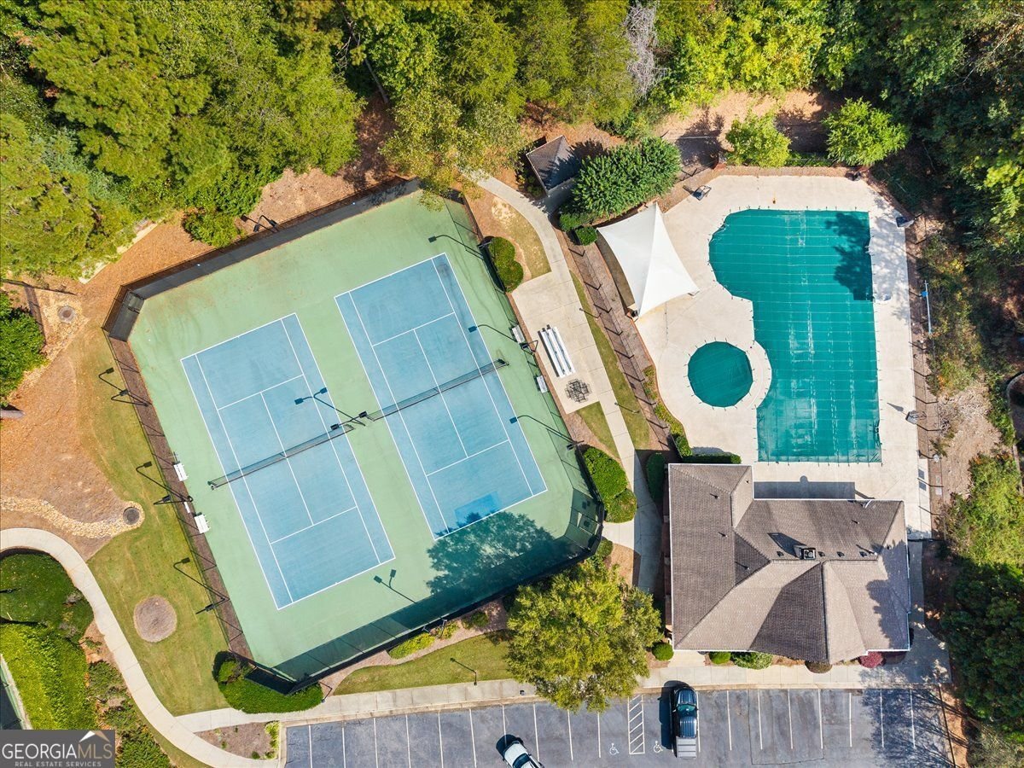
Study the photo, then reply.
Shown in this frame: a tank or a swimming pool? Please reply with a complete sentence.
There is a swimming pool in the scene.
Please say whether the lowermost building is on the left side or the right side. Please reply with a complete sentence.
It is on the right.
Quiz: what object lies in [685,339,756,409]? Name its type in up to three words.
swimming pool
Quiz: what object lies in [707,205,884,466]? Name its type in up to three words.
swimming pool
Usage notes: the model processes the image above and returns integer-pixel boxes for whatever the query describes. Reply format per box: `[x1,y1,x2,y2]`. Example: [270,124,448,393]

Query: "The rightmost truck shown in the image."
[672,682,701,758]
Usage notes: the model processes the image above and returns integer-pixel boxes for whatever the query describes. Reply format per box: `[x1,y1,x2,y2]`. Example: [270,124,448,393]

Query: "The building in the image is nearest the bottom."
[660,463,913,664]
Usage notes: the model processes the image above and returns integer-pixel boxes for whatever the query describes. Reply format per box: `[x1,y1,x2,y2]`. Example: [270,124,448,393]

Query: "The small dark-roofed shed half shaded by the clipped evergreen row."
[526,136,586,195]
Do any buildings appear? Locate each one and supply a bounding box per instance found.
[526,136,586,195]
[660,463,913,664]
